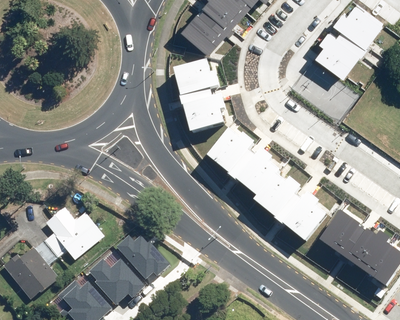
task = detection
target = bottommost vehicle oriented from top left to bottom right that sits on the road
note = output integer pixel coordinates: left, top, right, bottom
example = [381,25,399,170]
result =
[259,284,274,298]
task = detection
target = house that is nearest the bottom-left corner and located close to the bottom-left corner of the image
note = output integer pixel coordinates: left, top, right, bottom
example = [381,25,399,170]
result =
[6,248,56,298]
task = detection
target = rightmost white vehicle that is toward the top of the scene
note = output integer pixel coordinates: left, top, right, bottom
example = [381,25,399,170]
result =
[371,1,385,15]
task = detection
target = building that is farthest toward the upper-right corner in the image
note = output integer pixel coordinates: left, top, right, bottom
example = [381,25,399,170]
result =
[334,4,384,52]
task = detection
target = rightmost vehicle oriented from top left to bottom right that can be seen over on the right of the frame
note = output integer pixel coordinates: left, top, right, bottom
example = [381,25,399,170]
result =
[345,133,363,148]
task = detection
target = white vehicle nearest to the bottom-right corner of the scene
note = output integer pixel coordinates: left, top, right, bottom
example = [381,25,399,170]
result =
[388,197,400,215]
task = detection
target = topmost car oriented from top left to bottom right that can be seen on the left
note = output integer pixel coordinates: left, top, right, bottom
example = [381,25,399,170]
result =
[75,162,92,175]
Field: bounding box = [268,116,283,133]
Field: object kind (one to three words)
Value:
car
